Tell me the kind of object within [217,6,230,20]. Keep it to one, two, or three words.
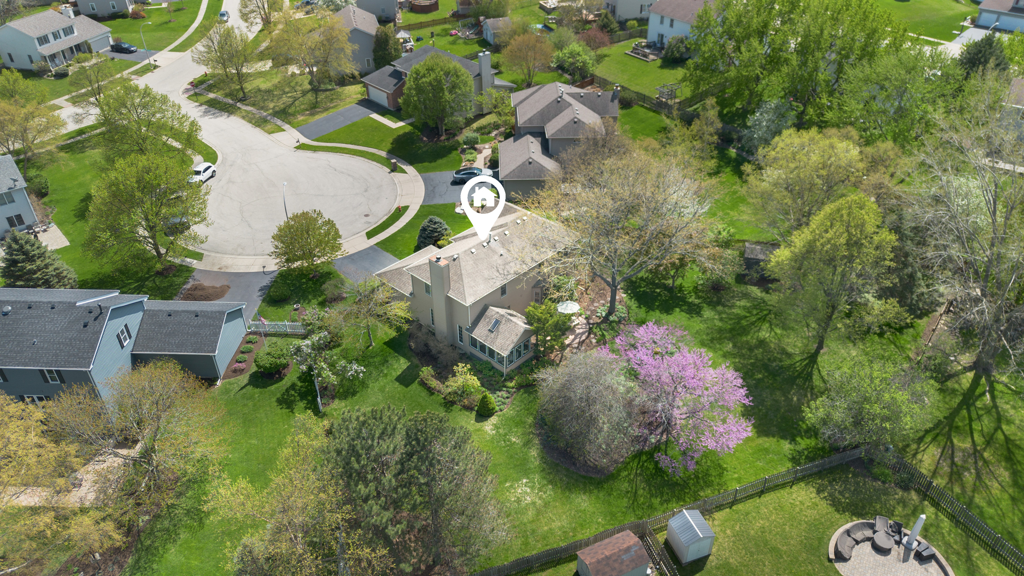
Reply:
vehicle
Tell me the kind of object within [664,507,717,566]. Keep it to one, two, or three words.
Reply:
shed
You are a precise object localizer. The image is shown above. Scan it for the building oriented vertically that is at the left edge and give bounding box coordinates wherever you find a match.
[0,152,40,234]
